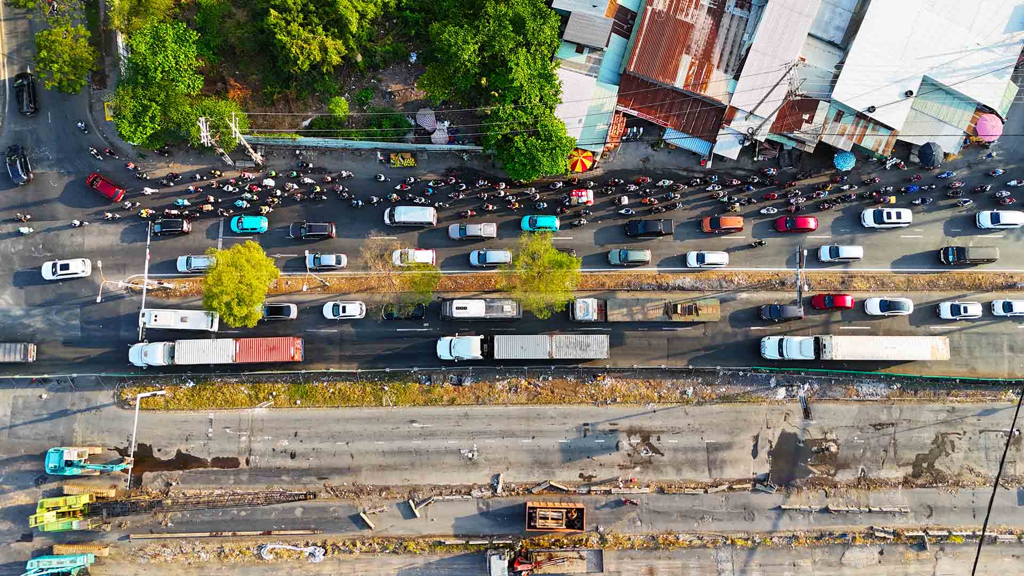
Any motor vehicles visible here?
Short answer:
Yes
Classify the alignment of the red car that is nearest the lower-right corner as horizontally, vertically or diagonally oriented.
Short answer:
horizontally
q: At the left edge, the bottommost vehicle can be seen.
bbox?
[45,445,138,476]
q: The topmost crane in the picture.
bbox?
[29,484,316,534]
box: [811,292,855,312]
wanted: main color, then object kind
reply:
red car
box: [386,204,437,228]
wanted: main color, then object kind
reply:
white vehicle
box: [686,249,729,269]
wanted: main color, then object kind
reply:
white car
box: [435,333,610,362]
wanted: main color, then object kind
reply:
white truck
